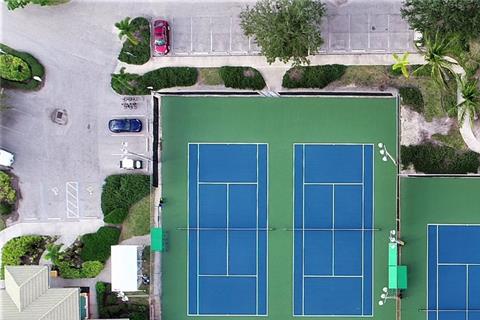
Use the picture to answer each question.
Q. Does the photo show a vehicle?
Yes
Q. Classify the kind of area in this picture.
sports ground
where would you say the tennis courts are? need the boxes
[281,95,396,320]
[161,95,281,320]
[400,178,480,320]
